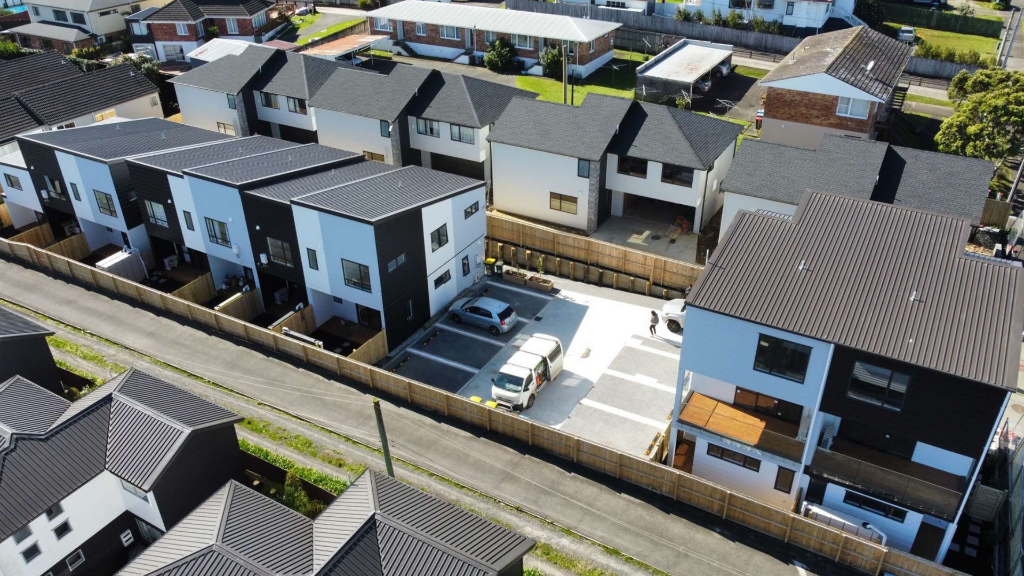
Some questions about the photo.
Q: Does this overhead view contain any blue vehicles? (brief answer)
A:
Yes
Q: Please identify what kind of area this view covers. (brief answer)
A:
residential area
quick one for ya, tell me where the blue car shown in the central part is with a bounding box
[447,296,520,337]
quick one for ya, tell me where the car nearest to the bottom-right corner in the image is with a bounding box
[661,299,691,333]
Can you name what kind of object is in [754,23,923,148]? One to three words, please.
house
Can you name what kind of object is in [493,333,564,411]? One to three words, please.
van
